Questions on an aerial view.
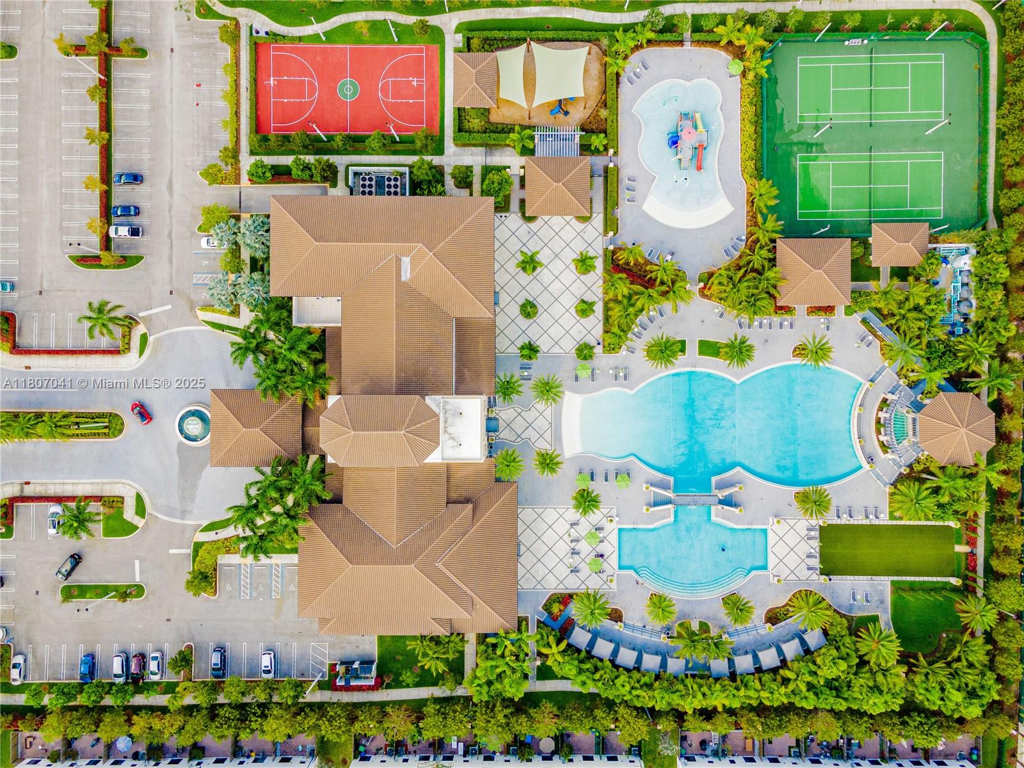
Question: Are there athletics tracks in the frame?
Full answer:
No, no athletics track can be seen from above.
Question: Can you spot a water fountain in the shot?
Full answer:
Yes, a water fountain is visible in the scene.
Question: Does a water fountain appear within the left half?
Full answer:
Yes, a water fountain is visible within the left half.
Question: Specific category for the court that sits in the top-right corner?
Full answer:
In the photo, the court that sits in the top-right corner shows up as a tennis court.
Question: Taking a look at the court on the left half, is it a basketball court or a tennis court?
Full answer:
It turns out the court on the left half is a basketball court.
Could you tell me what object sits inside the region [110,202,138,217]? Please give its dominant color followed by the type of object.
blue car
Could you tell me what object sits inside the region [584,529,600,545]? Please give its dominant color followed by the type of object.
green umbrella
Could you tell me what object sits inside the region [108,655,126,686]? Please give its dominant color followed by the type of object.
white car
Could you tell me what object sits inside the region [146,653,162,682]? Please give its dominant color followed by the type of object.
white car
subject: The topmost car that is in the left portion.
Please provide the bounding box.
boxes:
[112,170,141,185]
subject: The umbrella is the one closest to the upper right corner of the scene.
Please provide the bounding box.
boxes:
[726,60,743,76]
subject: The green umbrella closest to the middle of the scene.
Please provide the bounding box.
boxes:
[575,362,591,379]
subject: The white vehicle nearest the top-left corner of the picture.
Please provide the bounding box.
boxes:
[107,223,142,238]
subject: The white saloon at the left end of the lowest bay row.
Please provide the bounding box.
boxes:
[7,655,25,687]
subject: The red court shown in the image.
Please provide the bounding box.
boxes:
[255,43,439,135]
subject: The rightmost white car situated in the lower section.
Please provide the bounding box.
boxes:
[258,652,273,680]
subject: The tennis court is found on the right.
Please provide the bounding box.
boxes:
[763,36,983,237]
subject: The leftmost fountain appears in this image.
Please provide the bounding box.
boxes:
[174,407,211,444]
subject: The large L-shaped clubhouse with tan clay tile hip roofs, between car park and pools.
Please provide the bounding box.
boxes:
[269,195,518,638]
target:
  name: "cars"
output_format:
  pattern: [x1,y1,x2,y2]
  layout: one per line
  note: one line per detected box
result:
[258,652,273,680]
[7,655,25,687]
[0,281,12,293]
[199,235,225,249]
[146,653,162,682]
[0,628,7,641]
[208,650,225,680]
[77,655,93,685]
[129,401,151,427]
[112,170,141,185]
[110,202,138,217]
[126,655,144,685]
[54,554,79,582]
[108,655,126,686]
[44,505,62,536]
